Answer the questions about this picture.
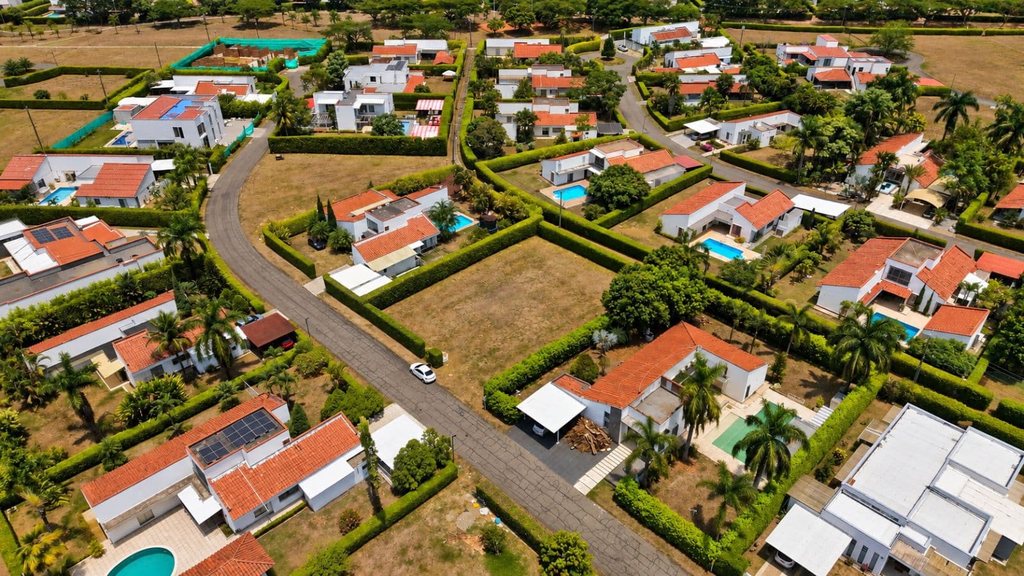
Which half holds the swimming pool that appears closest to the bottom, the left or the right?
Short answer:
left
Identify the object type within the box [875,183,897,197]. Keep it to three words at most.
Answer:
swimming pool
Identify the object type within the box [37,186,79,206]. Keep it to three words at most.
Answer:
swimming pool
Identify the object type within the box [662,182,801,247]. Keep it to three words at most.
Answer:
house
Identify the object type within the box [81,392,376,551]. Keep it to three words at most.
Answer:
house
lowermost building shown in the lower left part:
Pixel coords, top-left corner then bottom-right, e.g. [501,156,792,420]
[177,530,276,576]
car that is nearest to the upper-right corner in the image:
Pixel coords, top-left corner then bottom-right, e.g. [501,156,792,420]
[920,206,937,219]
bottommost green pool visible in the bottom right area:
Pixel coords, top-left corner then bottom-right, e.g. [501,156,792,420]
[707,397,803,466]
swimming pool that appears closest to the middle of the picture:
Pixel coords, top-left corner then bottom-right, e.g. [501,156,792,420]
[431,214,476,233]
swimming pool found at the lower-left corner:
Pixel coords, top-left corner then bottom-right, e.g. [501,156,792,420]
[107,547,183,576]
